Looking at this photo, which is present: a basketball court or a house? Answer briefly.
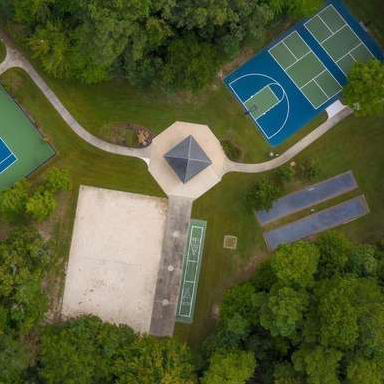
basketball court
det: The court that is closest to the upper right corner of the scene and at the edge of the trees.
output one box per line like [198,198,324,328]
[304,5,378,76]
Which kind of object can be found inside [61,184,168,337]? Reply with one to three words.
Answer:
sports court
